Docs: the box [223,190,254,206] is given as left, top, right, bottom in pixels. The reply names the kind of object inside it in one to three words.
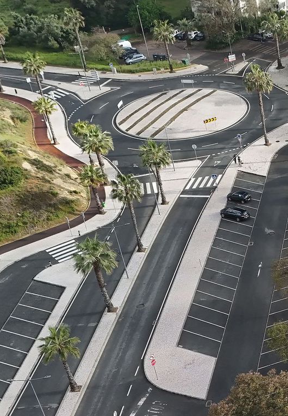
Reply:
car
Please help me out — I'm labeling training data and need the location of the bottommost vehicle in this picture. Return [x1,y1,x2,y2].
[217,206,252,224]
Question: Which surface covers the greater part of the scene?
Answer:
paved ground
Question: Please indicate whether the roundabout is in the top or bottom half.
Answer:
top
